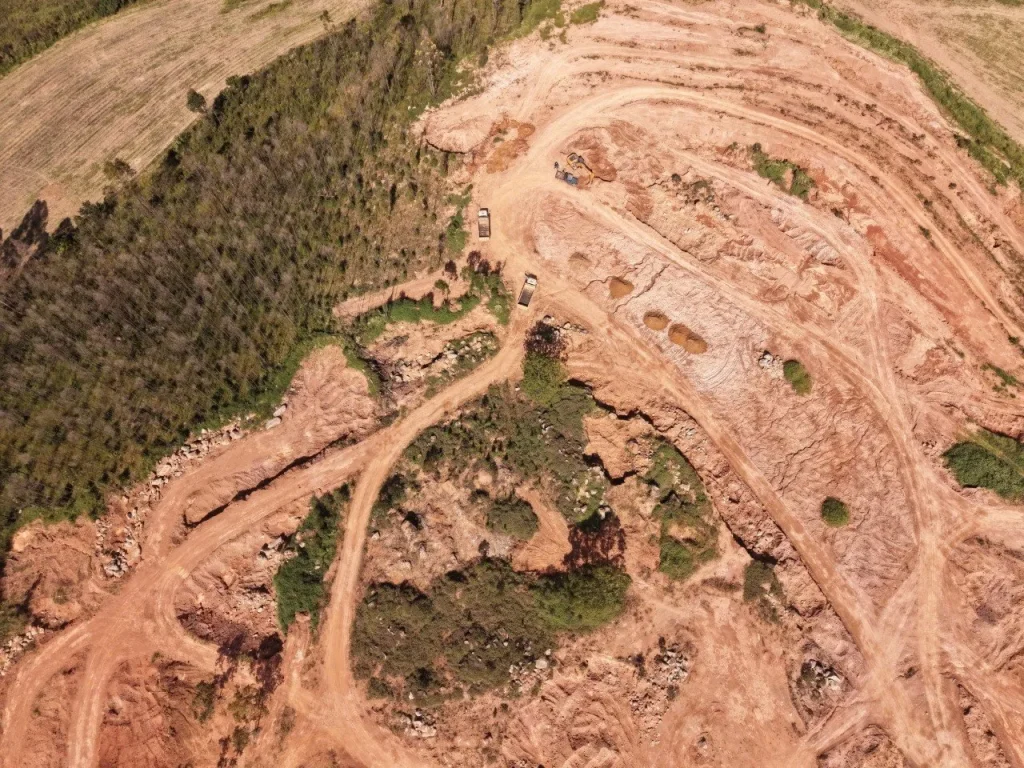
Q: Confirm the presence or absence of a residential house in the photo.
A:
No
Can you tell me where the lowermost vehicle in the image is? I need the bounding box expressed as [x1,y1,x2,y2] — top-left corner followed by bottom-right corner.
[517,273,537,306]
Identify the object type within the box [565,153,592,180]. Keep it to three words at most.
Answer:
work vehicle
